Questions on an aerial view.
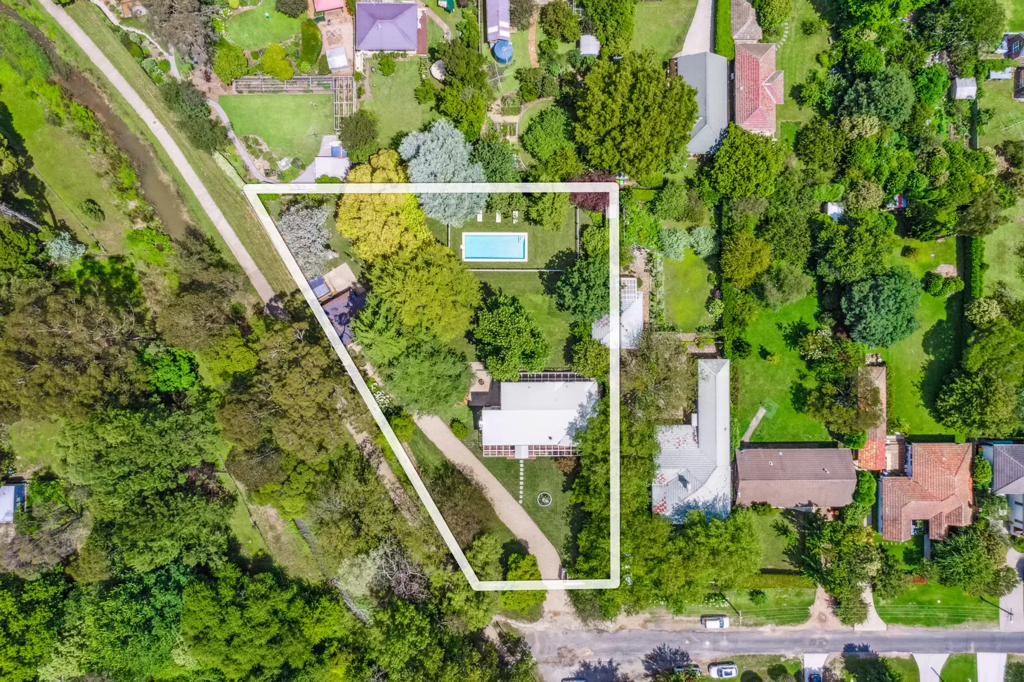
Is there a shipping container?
No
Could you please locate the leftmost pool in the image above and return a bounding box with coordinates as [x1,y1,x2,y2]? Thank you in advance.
[459,232,528,262]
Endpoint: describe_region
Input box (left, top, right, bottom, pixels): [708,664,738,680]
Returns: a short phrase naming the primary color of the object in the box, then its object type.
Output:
white car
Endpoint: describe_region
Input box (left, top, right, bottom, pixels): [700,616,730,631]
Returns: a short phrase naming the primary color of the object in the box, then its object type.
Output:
white car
